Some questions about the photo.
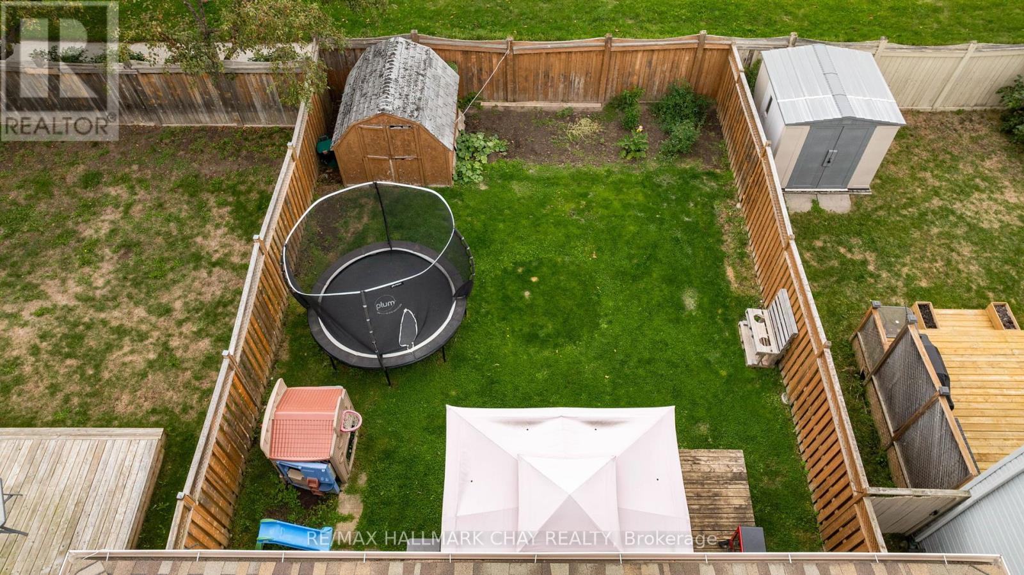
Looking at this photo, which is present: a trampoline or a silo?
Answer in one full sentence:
Of the two, only a trampoline appears.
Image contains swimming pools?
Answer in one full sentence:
No, there's no swimming pool here.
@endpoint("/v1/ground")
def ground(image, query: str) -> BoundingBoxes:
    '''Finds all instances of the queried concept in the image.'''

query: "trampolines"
[280,181,474,388]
